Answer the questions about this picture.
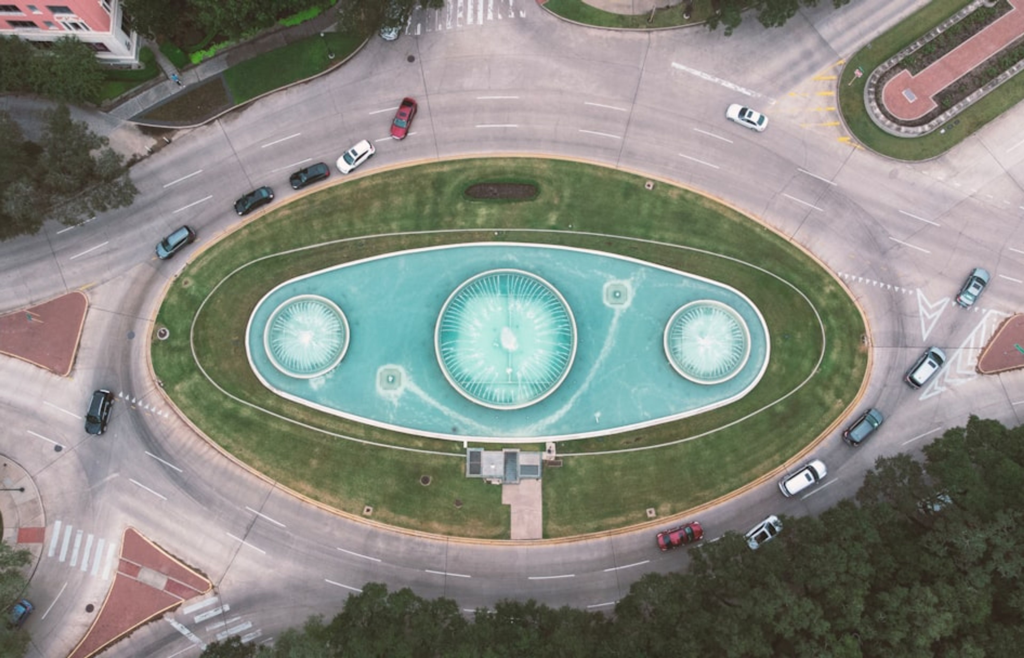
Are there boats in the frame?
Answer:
No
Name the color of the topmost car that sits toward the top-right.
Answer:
white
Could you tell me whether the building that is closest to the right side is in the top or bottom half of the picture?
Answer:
bottom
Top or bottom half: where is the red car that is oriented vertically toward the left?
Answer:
top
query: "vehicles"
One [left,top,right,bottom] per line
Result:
[86,391,116,435]
[779,460,825,498]
[657,523,703,550]
[727,107,768,131]
[234,185,274,216]
[957,269,988,310]
[842,408,884,448]
[743,515,783,553]
[905,347,944,392]
[382,0,405,41]
[290,161,329,191]
[155,226,197,259]
[393,96,417,141]
[336,139,375,175]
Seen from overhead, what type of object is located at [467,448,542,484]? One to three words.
building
